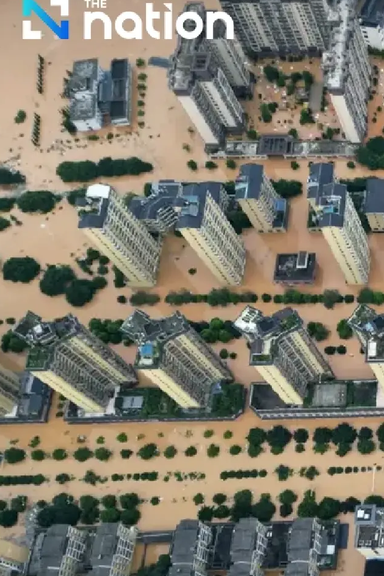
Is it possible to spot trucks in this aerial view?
No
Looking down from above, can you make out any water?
Yes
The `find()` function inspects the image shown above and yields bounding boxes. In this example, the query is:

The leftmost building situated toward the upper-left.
[69,60,110,131]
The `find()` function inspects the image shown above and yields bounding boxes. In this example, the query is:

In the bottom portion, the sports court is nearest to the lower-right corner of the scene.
[312,383,347,407]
